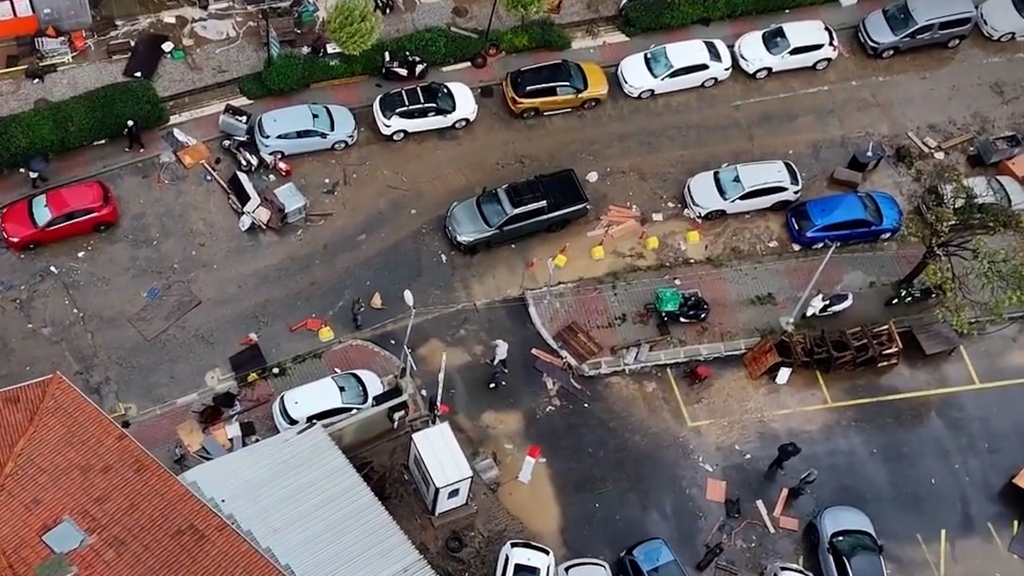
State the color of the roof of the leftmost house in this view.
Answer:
red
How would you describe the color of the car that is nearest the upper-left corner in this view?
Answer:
red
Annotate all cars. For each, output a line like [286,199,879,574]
[684,153,806,221]
[501,53,610,120]
[977,0,1024,42]
[786,184,906,254]
[735,14,842,79]
[371,73,480,141]
[251,96,358,162]
[493,537,556,576]
[0,176,121,251]
[268,364,387,434]
[856,0,979,59]
[619,535,690,576]
[812,506,888,576]
[558,555,617,576]
[617,37,729,99]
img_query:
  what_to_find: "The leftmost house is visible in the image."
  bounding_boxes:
[0,370,295,576]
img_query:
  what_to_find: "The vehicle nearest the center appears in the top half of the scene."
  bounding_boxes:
[439,165,591,253]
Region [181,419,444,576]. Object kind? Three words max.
shed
